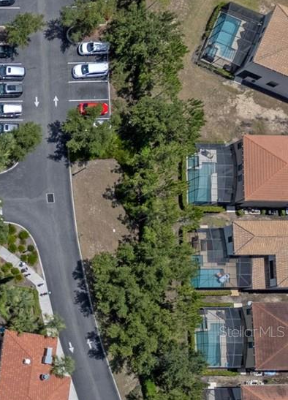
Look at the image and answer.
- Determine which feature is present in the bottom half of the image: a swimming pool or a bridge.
swimming pool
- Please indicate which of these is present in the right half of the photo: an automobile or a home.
home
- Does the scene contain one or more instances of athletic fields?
No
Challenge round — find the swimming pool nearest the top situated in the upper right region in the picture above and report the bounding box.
[207,10,241,57]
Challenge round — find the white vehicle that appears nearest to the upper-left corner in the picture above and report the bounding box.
[0,64,23,80]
